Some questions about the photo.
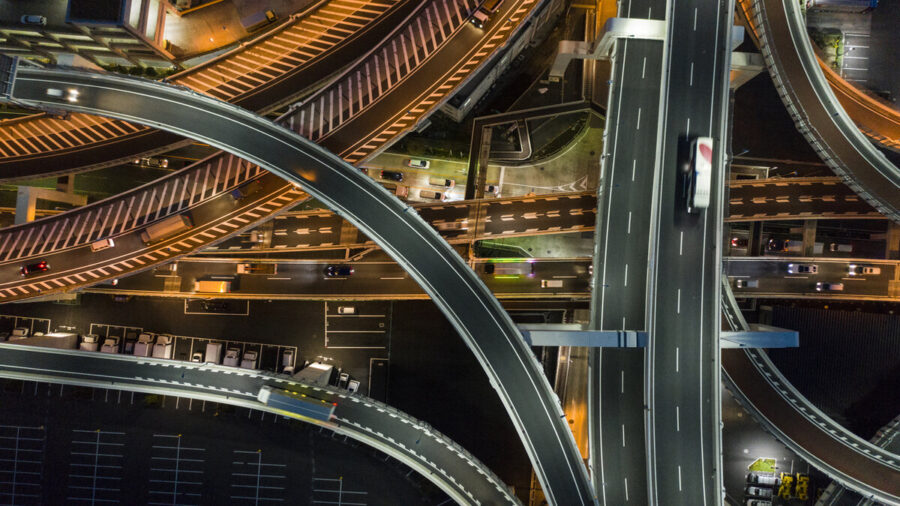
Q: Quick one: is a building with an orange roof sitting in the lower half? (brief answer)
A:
No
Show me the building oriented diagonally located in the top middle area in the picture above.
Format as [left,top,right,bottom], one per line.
[439,0,551,117]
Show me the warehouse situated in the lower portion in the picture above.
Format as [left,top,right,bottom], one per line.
[754,303,900,432]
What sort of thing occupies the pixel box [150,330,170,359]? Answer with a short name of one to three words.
vehicle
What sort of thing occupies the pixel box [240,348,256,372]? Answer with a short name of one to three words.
vehicle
